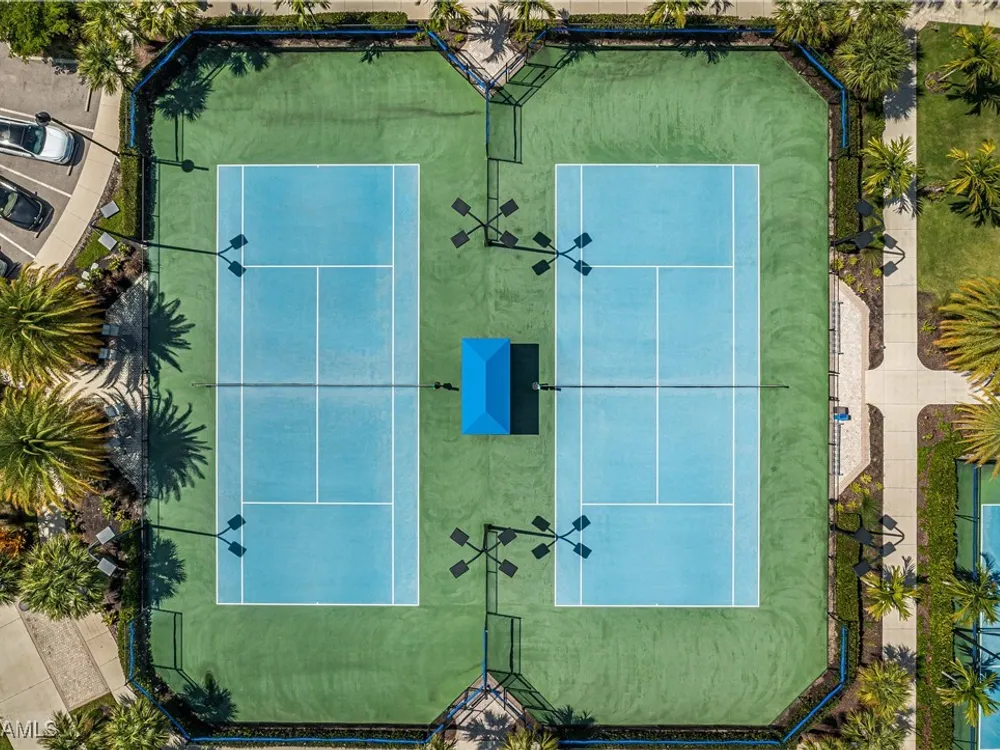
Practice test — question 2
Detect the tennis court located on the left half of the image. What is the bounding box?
[148,47,487,724]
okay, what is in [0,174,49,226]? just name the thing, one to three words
car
